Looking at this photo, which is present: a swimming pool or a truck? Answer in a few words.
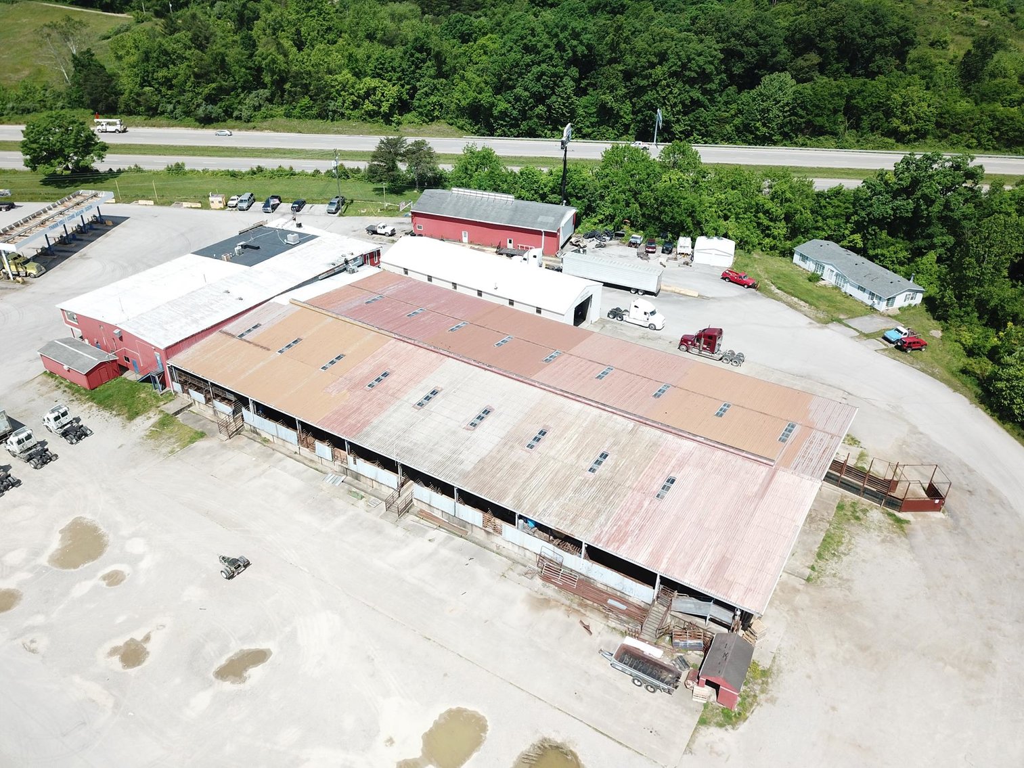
truck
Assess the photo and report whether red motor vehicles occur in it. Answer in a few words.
Yes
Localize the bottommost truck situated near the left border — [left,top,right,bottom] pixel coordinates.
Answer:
[0,464,23,498]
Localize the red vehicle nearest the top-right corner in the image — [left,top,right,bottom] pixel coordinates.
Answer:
[895,334,933,353]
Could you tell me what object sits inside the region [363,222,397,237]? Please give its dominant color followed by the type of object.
white vehicle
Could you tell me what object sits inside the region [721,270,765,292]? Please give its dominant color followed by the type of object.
red truck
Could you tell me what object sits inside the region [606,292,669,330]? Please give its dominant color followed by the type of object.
white truck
